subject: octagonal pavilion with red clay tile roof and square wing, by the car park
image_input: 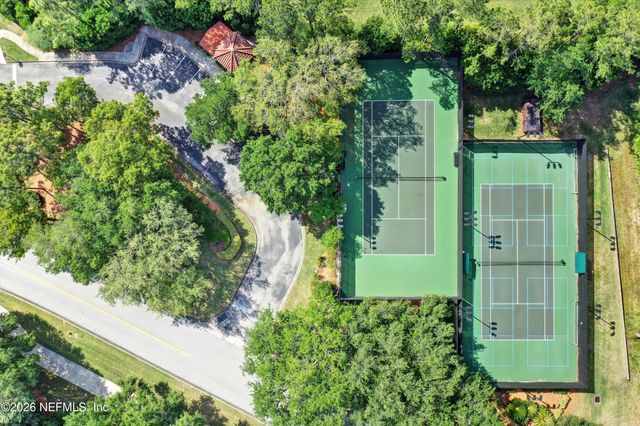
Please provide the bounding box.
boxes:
[199,21,259,81]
